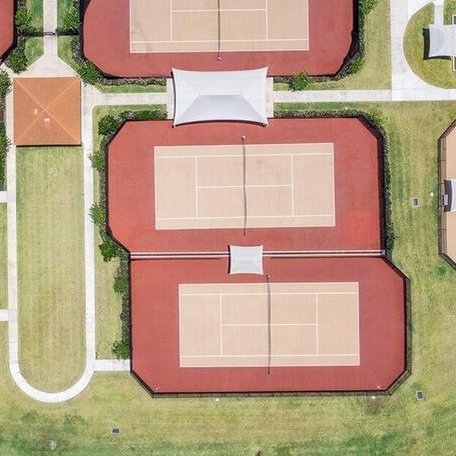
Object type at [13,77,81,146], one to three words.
building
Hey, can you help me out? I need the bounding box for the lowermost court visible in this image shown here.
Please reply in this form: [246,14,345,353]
[131,255,406,394]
